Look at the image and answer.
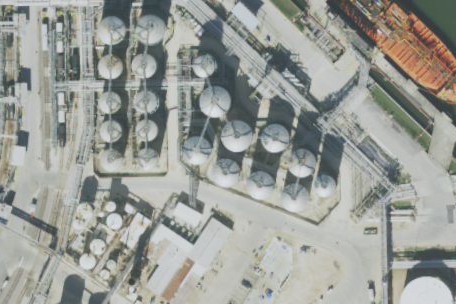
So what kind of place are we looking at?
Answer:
industrial area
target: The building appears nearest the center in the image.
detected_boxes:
[172,202,204,229]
